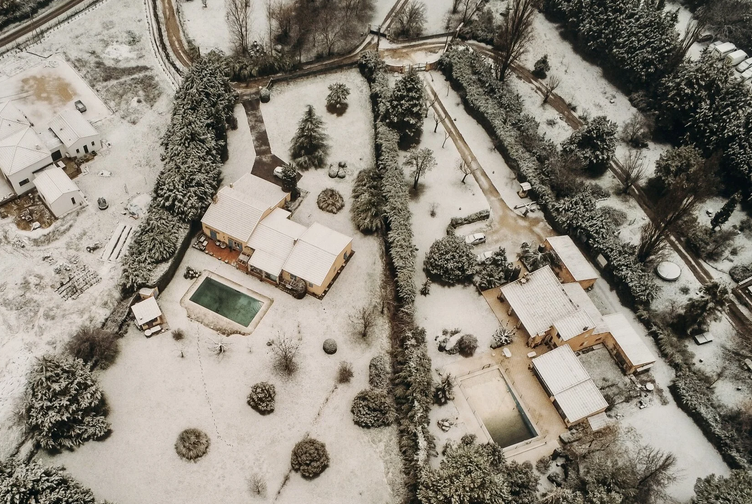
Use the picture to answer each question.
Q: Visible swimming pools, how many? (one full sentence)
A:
The number of swimming pools here is 2.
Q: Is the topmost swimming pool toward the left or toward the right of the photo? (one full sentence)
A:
You can find the topmost swimming pool on the left side of the picture.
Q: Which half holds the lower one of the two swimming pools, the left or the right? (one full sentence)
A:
It is on the right.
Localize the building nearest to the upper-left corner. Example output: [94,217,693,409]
[0,100,100,215]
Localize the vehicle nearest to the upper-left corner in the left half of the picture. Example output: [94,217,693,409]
[73,99,88,113]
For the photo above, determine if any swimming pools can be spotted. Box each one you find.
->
[183,272,270,331]
[455,362,545,452]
